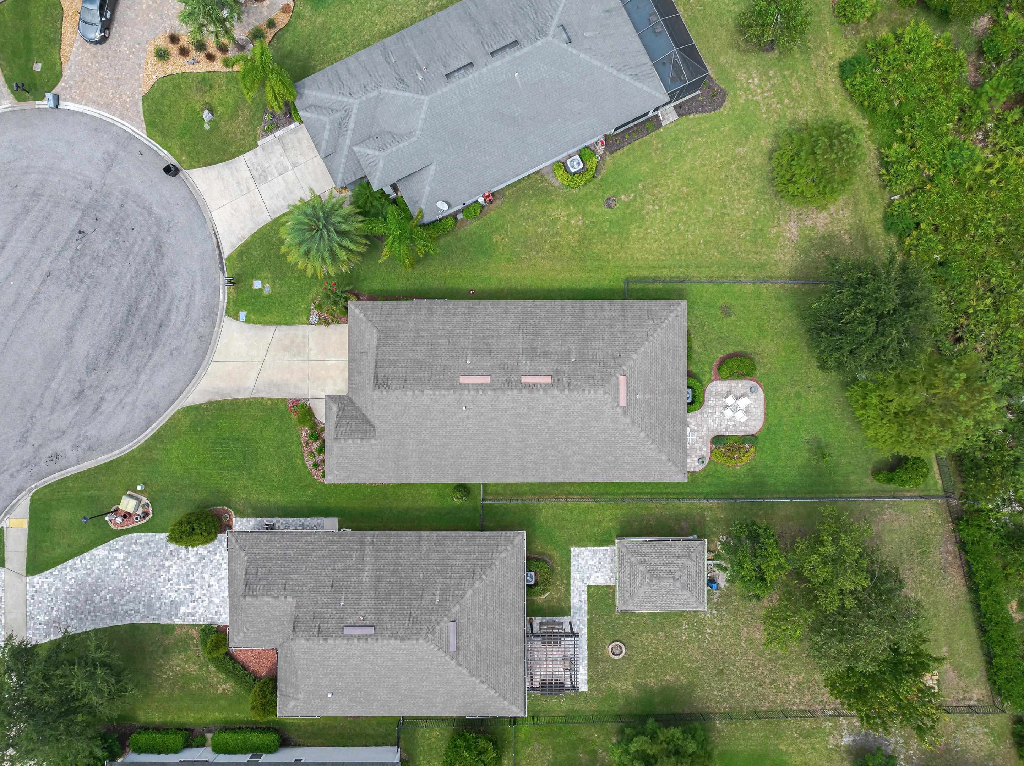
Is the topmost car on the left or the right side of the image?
left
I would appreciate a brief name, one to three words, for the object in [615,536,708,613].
building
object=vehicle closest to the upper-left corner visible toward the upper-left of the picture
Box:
[75,0,113,44]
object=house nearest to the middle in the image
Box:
[324,299,689,484]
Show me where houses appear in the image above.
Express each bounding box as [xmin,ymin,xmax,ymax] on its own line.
[324,299,689,484]
[225,525,527,719]
[289,0,671,229]
[106,748,401,766]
